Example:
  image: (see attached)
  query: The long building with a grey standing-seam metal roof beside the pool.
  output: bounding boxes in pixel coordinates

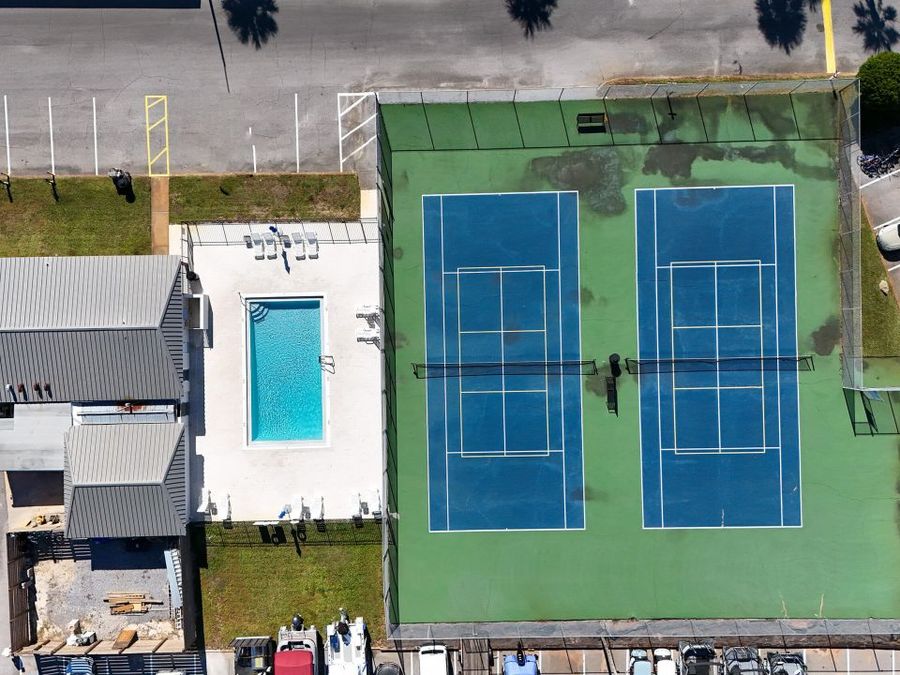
[0,255,194,402]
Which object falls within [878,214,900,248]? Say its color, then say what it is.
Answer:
white car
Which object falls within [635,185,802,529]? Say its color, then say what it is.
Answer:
blue tennis court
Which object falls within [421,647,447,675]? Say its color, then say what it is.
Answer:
white car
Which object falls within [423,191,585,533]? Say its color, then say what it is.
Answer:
blue tennis court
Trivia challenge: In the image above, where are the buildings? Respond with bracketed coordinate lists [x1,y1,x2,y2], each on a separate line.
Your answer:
[63,420,197,539]
[0,255,194,402]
